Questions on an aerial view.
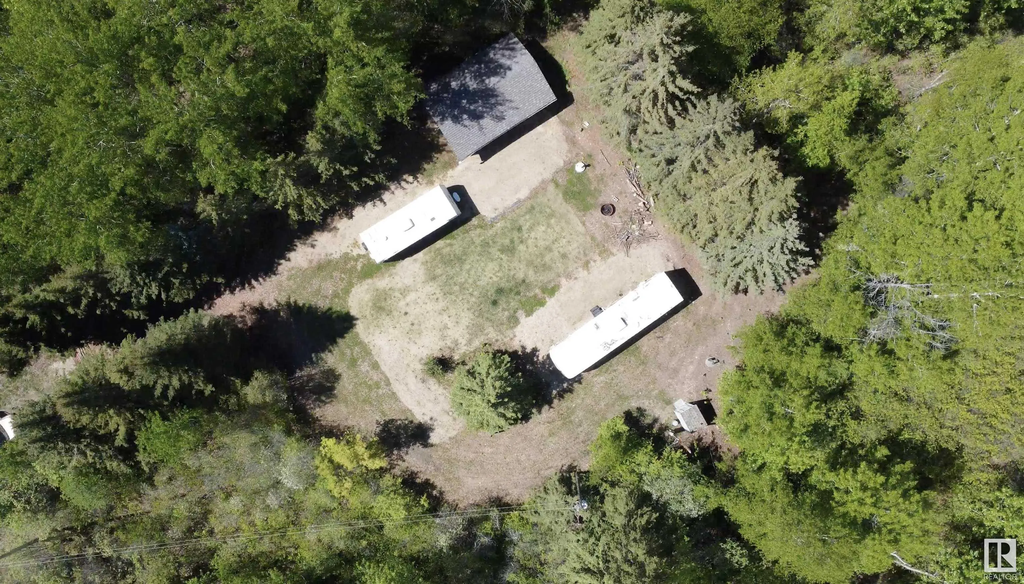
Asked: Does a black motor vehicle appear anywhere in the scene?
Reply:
No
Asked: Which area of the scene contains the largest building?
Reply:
top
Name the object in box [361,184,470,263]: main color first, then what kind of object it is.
white vehicle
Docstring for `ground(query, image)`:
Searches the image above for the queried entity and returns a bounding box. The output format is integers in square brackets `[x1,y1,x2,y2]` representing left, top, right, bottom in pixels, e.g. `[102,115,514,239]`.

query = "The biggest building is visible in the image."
[422,31,556,164]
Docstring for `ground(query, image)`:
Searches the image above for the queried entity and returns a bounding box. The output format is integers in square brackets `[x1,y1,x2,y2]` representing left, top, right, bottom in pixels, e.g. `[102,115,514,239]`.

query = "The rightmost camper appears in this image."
[552,273,685,378]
